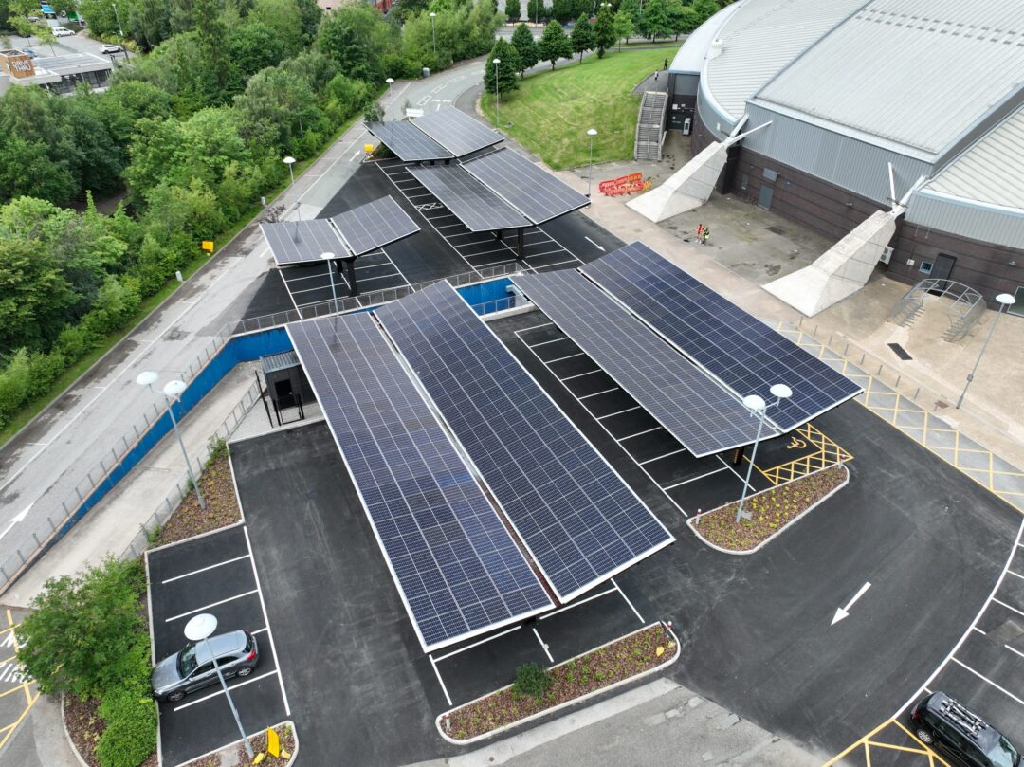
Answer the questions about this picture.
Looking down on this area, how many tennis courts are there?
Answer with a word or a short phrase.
0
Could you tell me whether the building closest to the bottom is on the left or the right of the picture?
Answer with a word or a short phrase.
left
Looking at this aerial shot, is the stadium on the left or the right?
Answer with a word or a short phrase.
right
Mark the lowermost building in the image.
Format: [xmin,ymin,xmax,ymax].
[254,347,317,411]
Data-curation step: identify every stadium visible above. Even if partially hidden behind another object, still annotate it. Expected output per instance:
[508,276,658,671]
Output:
[665,0,1024,317]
